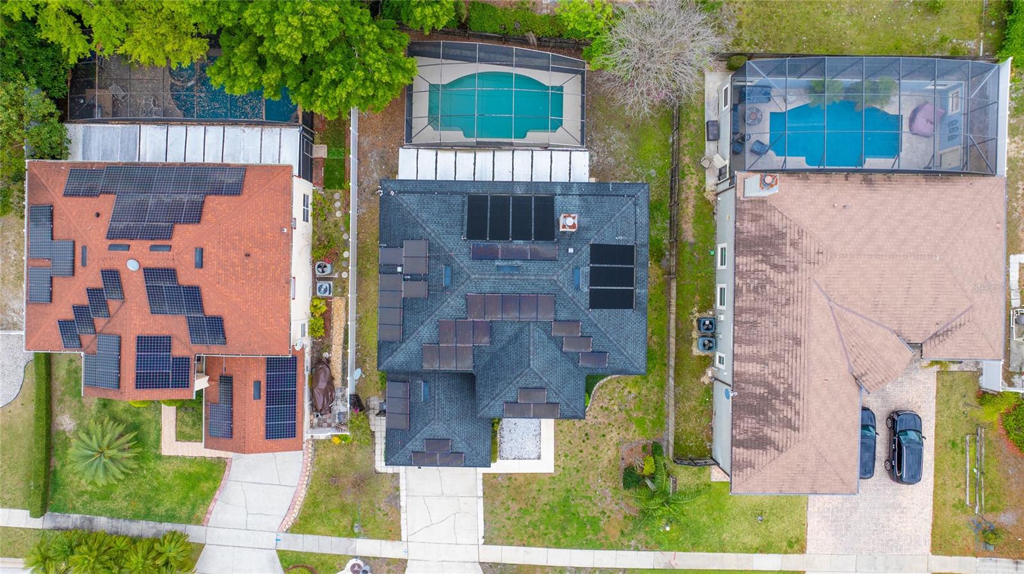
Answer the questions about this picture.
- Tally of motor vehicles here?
two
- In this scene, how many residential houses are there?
three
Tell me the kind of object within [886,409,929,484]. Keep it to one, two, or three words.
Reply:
car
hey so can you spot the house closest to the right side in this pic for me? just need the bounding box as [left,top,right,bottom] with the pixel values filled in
[711,163,1008,497]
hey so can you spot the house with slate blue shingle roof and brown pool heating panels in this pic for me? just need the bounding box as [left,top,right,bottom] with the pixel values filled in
[375,178,651,469]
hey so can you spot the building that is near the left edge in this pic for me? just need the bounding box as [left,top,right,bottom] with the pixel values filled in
[22,158,314,455]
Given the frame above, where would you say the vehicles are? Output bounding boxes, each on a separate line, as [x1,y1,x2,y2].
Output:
[886,409,929,484]
[859,406,882,480]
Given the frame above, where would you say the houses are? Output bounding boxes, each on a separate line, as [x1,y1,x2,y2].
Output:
[375,178,651,469]
[711,163,1008,497]
[22,158,314,455]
